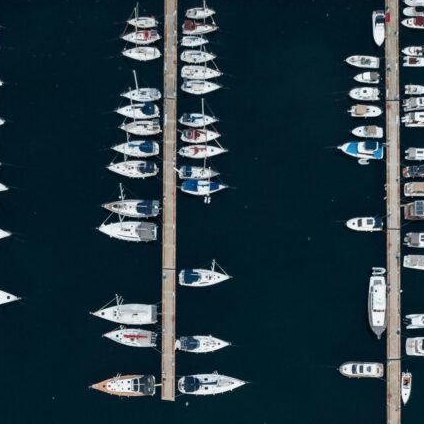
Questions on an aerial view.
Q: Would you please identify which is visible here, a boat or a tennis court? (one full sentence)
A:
I can see a boat in this picture.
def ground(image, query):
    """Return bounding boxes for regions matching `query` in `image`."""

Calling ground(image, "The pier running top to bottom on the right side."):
[384,0,400,424]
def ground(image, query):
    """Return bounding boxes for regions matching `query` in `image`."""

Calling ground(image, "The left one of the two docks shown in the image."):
[162,0,178,401]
